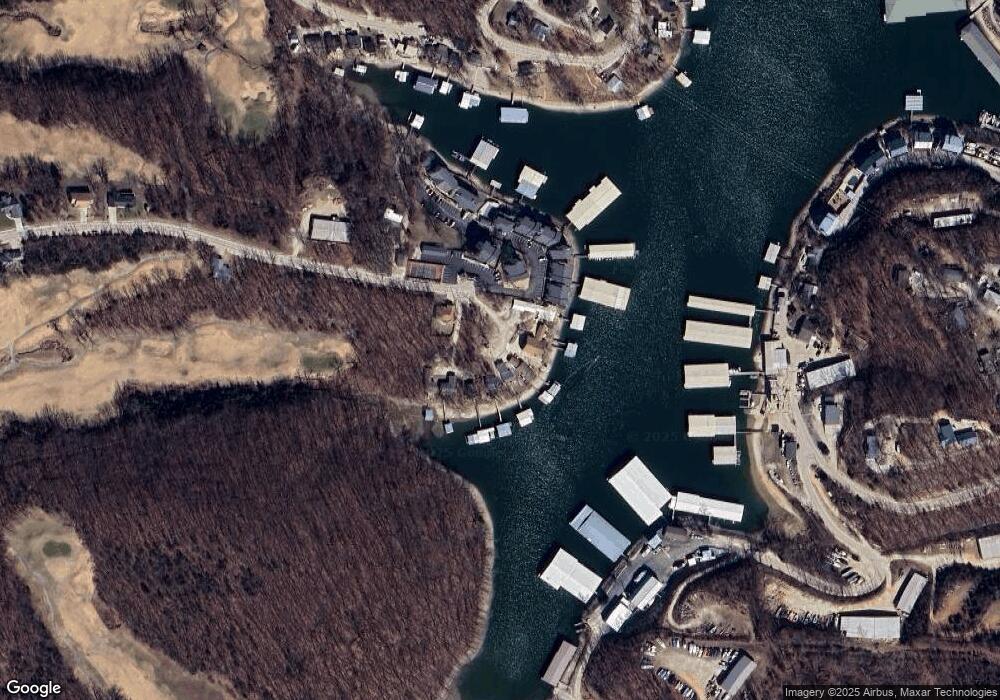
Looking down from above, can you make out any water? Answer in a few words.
Yes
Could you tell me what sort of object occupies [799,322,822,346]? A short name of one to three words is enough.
house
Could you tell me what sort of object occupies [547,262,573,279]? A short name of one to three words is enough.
building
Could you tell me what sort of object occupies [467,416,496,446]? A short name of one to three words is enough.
pier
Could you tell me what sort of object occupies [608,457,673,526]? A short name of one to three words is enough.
pier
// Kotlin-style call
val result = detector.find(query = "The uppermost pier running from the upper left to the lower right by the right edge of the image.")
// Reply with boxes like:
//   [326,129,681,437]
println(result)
[961,19,1000,84]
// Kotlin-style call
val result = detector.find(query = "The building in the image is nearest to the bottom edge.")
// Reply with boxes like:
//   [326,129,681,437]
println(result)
[720,655,758,699]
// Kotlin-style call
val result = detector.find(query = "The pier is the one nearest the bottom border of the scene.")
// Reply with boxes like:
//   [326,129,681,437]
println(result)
[542,639,577,686]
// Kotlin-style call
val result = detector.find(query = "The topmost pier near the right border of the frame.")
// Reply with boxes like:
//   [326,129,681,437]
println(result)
[885,0,967,22]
